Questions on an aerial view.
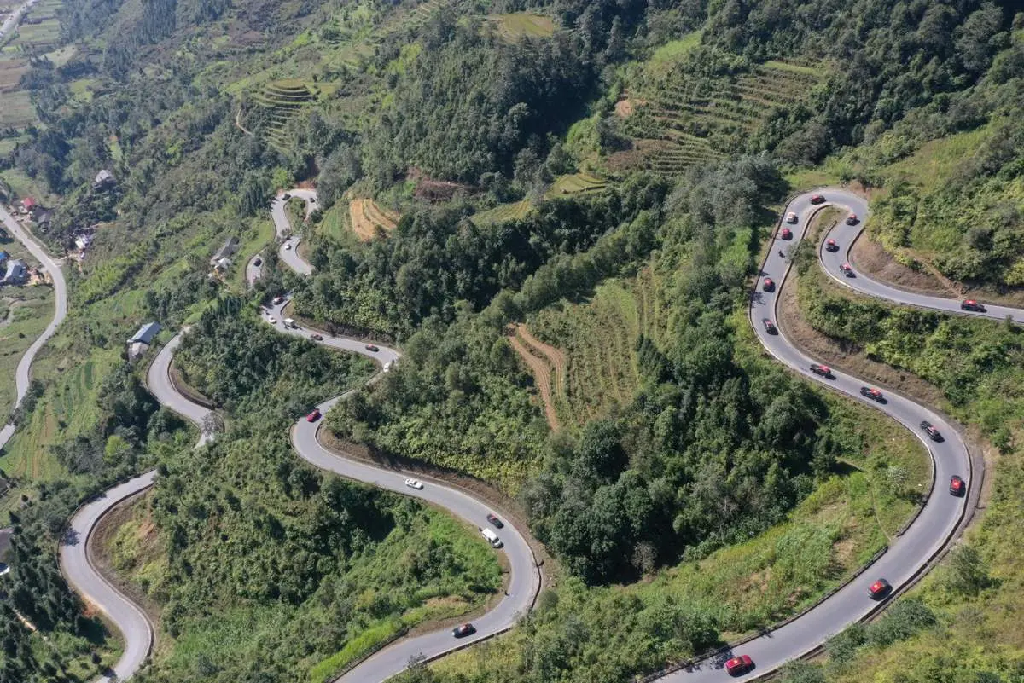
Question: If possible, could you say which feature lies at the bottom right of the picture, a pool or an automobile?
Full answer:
There is an automobile at the bottom right of the picture.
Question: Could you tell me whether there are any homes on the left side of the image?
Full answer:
Yes, there is a home on the left side of the image.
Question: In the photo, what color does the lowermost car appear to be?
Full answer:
From above, the lowermost car appears red.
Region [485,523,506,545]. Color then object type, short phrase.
white vehicle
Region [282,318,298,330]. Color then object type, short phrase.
white vehicle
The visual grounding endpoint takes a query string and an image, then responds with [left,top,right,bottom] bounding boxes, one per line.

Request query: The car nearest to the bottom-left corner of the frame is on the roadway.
[306,408,321,422]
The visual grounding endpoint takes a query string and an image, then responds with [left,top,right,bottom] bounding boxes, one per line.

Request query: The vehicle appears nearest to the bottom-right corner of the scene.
[861,579,891,602]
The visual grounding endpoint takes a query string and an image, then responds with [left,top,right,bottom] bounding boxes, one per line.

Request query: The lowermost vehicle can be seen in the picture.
[720,656,750,678]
